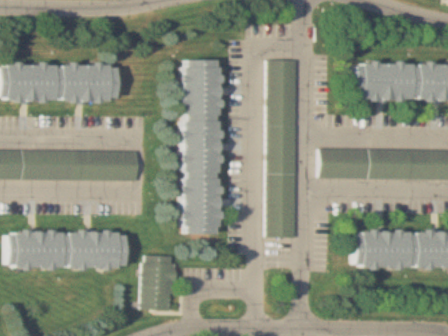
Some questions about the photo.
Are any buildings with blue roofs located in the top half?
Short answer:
No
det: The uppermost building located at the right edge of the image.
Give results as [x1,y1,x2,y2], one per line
[349,62,448,103]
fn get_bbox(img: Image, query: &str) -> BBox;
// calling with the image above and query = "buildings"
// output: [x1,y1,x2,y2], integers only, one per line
[0,62,121,104]
[348,230,448,271]
[316,148,448,180]
[349,62,448,103]
[0,150,138,180]
[176,60,225,234]
[262,60,295,238]
[0,230,129,271]
[132,256,172,311]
